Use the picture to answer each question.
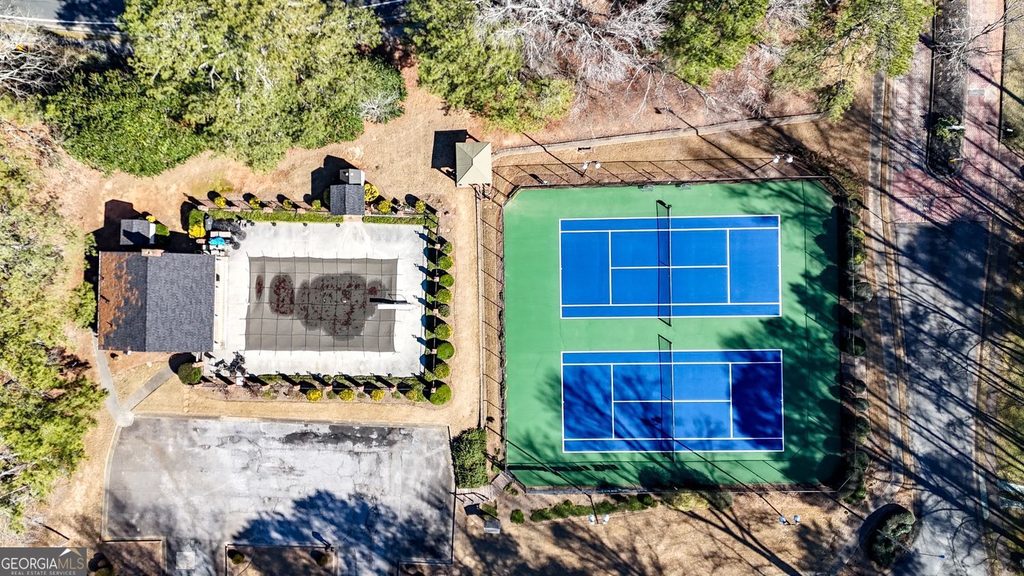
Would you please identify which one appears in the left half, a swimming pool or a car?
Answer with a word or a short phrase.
swimming pool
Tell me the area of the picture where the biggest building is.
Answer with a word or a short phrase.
left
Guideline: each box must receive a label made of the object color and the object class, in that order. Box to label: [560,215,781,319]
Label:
blue tennis court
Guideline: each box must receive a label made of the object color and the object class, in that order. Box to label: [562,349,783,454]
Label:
blue tennis court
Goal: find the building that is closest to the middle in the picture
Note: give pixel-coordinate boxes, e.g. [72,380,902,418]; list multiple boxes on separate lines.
[456,142,492,188]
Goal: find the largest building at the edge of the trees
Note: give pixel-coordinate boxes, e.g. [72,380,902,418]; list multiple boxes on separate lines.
[99,246,235,358]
